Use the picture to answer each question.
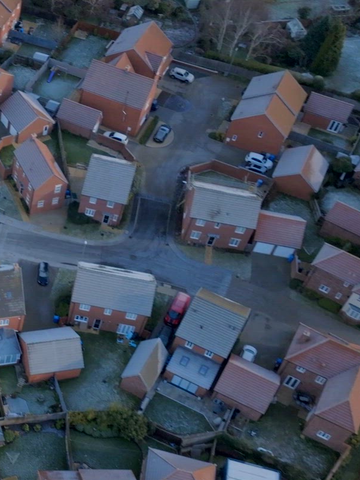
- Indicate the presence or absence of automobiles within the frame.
Yes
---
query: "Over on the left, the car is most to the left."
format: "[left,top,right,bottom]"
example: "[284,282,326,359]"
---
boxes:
[37,264,50,285]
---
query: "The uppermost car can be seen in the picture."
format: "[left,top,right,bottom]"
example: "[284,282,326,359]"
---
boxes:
[170,68,195,83]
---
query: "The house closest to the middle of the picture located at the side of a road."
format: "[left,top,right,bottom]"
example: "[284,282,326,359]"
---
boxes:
[183,182,261,250]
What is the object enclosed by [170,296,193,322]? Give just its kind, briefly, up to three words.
car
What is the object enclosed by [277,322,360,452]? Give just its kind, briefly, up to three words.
house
